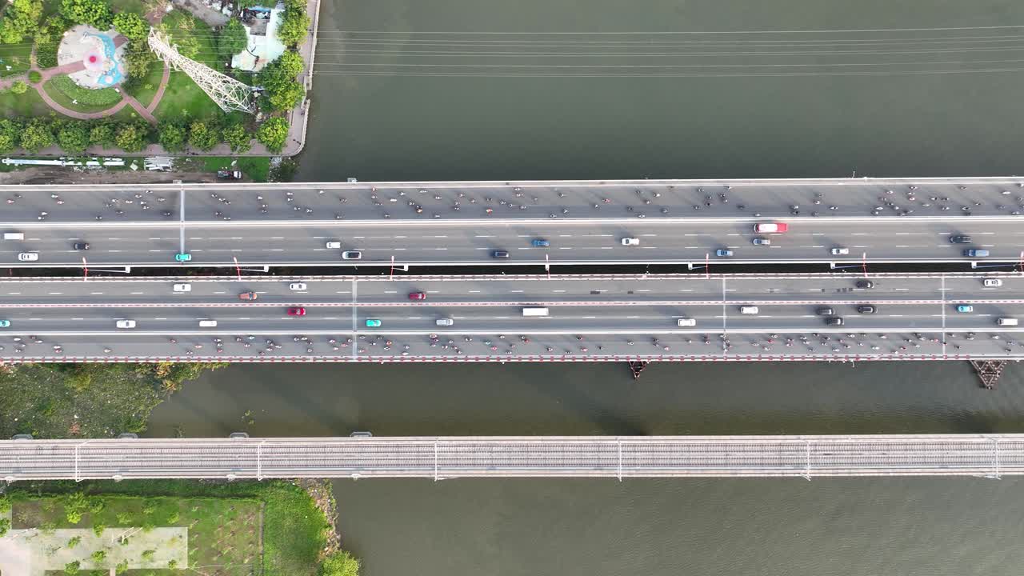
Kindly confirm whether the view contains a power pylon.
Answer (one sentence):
Yes, a power pylon can be made out from above.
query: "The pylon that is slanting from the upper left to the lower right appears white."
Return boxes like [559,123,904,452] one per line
[148,26,256,116]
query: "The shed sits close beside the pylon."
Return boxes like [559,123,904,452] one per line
[230,6,287,70]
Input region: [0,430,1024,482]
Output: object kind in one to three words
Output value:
bridge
